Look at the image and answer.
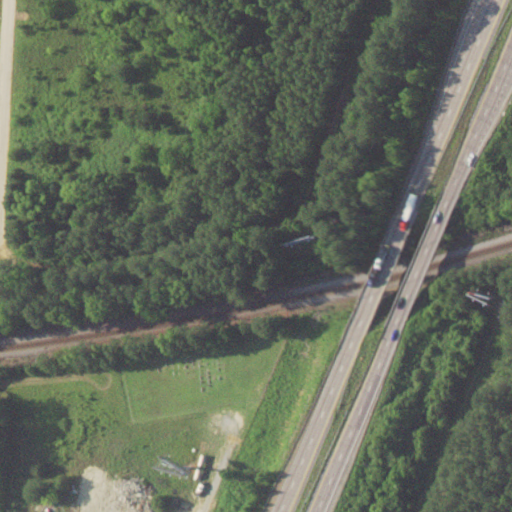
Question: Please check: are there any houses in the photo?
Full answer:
No, I find no house anywhere in the image.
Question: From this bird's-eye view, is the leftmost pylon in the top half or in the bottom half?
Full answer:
Seen from above, the leftmost pylon lies in the bottom half of the view.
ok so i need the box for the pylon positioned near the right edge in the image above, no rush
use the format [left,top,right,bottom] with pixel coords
[466,291,496,306]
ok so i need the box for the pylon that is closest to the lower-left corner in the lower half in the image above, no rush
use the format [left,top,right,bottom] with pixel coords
[152,456,189,480]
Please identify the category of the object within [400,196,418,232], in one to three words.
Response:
vehicle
